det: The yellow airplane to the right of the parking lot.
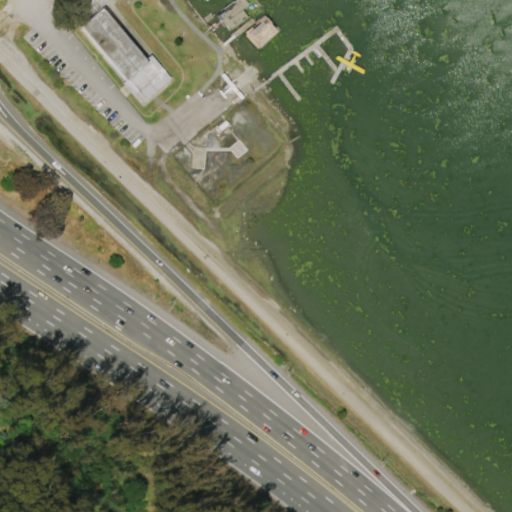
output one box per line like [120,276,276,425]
[335,50,366,74]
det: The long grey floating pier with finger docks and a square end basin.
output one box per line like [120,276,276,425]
[254,26,356,102]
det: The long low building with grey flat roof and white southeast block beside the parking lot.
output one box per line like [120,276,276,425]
[82,8,173,105]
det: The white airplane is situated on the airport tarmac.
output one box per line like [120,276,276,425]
[220,72,246,100]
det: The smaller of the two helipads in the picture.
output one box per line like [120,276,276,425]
[230,140,249,159]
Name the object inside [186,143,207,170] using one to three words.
helipad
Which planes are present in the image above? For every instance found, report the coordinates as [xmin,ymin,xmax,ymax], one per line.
[335,50,366,74]
[220,72,246,100]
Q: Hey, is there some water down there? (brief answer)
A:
Yes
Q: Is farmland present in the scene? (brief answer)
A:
No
